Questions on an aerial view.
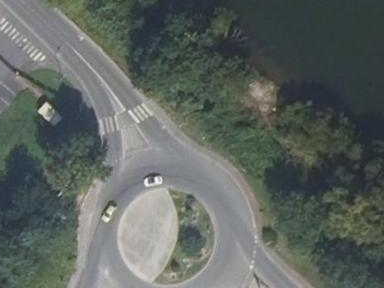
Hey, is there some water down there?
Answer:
Yes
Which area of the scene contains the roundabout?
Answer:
bottom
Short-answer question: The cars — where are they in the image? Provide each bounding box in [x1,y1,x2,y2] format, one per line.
[144,177,163,187]
[103,204,117,222]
